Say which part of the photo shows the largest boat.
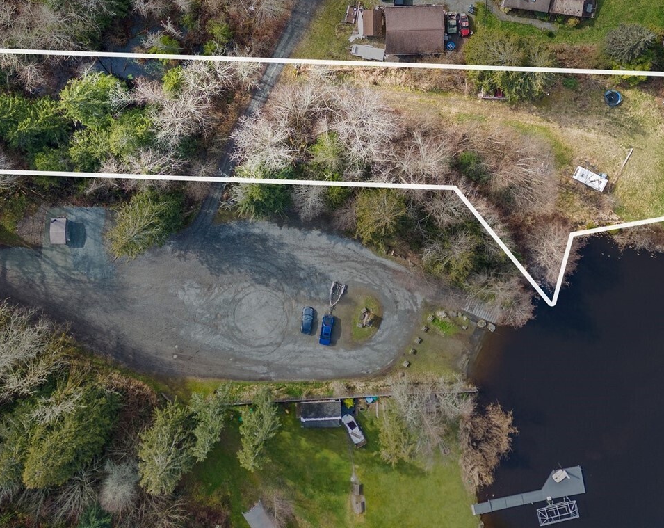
bottom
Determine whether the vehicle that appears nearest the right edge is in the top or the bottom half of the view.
top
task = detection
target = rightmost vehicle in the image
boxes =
[569,166,606,192]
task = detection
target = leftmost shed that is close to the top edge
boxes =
[363,10,385,37]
